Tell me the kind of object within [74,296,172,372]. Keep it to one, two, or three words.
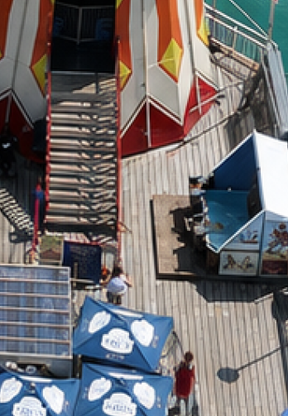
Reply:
umbrella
